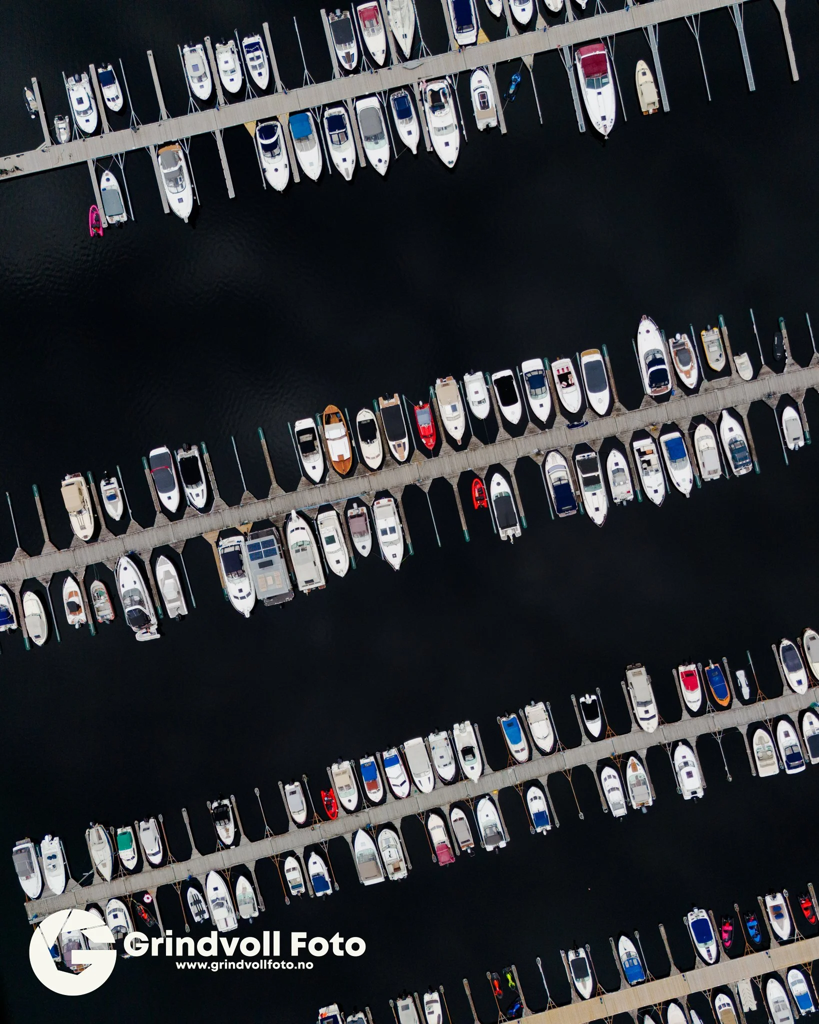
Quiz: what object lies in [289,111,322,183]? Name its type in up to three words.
boat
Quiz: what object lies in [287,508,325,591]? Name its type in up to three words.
boat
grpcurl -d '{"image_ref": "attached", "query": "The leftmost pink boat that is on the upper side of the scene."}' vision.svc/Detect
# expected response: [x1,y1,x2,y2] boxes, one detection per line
[88,205,103,237]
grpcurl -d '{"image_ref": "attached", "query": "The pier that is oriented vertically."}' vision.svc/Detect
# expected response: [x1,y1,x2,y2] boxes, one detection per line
[738,978,757,1011]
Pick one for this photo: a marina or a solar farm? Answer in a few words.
marina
